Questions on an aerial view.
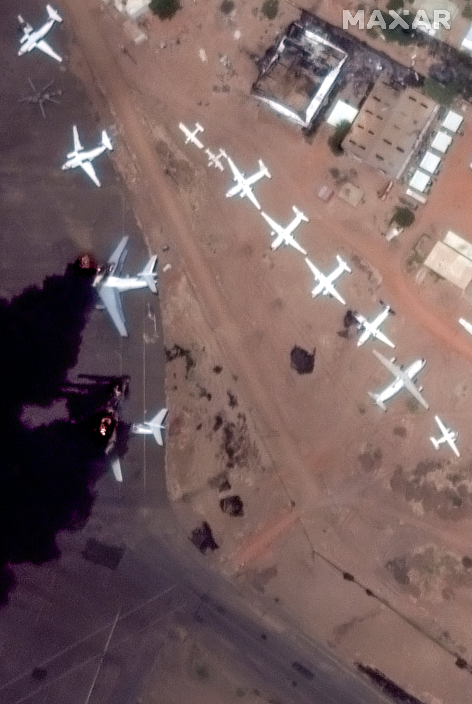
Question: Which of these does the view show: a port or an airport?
airport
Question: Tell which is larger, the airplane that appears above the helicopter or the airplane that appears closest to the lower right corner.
the airplane that appears above the helicopter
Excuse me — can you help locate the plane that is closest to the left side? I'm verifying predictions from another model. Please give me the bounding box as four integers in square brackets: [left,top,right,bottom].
[18,3,62,61]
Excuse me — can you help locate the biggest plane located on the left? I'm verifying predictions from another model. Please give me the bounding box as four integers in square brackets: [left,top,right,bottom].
[92,237,160,336]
